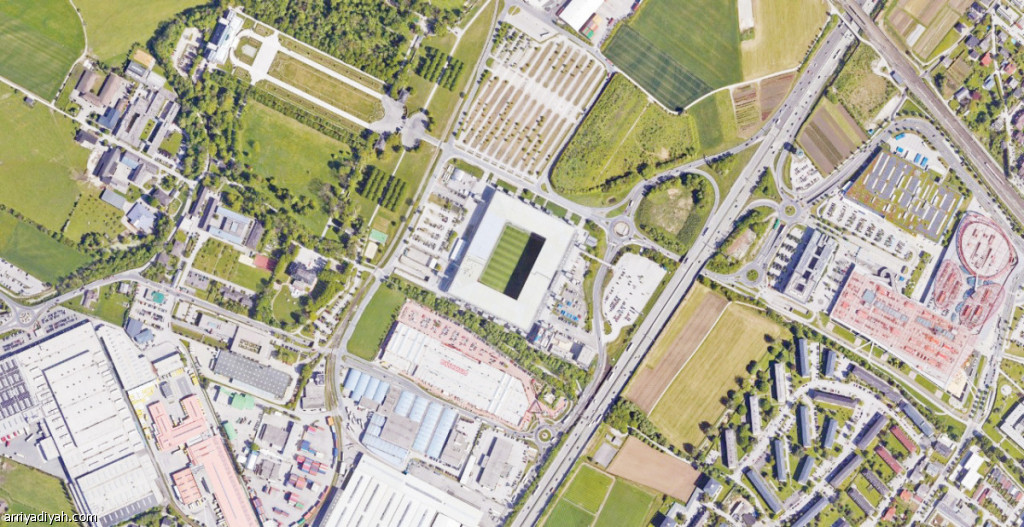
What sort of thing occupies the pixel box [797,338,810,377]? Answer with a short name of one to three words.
building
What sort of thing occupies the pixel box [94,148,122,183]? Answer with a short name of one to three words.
barn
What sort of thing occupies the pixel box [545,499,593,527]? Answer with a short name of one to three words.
sports field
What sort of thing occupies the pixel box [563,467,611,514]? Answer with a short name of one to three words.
sports field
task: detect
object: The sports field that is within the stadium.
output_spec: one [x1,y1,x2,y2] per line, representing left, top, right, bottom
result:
[479,223,545,300]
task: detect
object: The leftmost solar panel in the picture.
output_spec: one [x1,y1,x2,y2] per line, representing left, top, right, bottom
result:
[0,359,31,415]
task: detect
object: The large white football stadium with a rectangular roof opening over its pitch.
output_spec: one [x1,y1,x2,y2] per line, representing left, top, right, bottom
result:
[448,189,579,335]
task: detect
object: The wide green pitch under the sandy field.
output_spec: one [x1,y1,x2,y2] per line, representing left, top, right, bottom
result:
[597,480,656,527]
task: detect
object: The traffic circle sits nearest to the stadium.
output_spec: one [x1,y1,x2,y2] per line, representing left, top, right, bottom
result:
[607,215,635,243]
